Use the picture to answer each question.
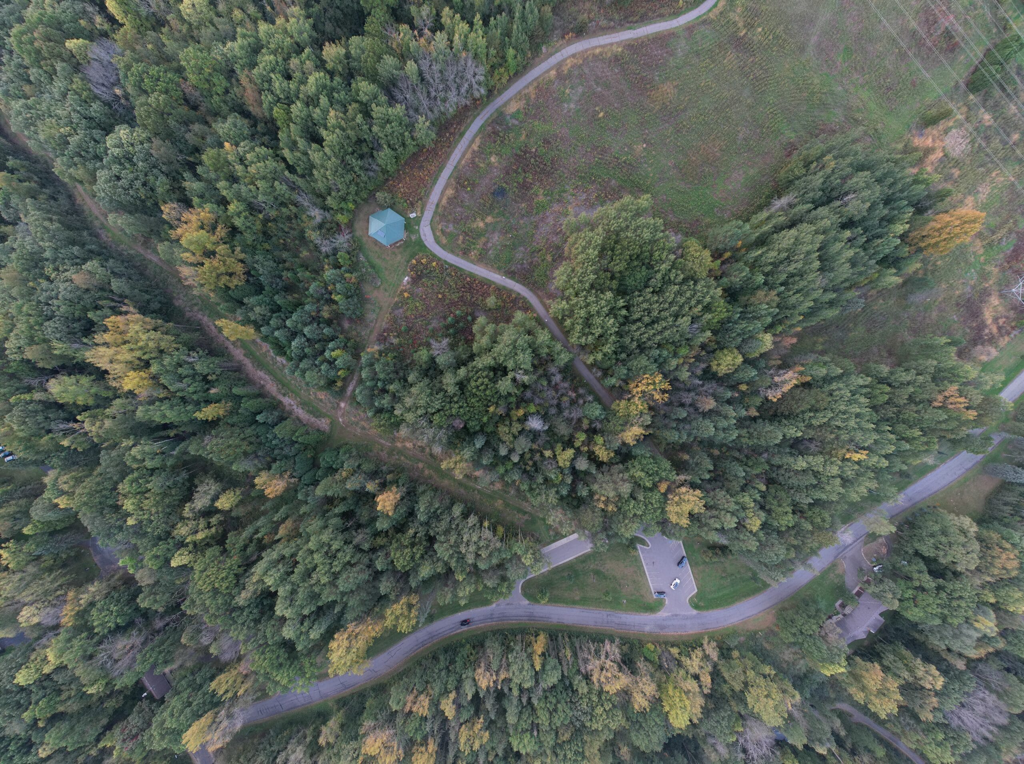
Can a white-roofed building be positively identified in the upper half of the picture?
No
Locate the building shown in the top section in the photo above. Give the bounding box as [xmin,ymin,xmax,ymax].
[368,208,407,248]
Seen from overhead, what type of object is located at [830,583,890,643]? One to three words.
house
